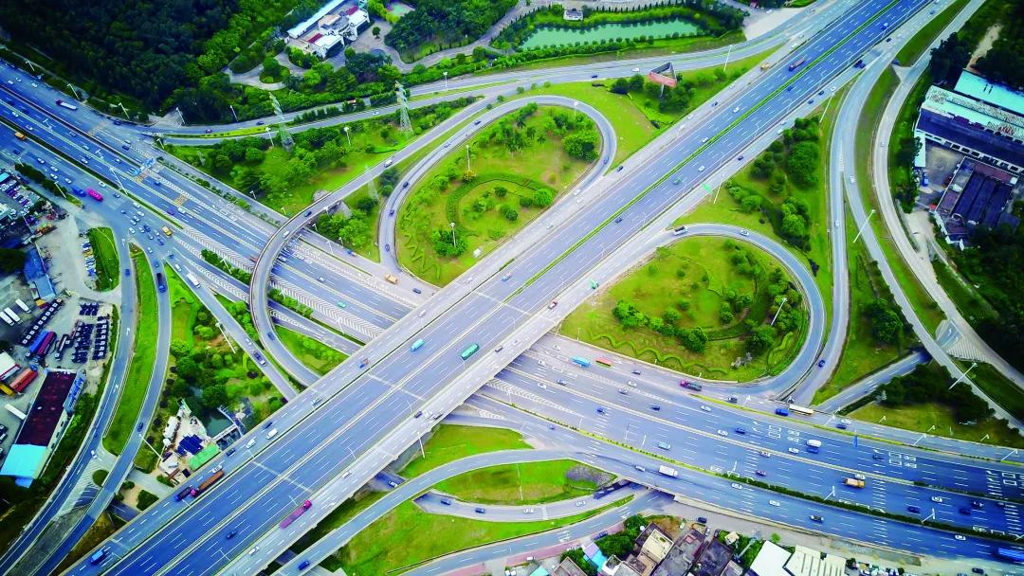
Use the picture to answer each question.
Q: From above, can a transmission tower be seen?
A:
Yes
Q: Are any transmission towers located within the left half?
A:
Yes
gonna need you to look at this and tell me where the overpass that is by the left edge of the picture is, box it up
[24,241,171,576]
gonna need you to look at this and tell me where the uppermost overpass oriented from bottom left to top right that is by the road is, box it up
[250,92,505,386]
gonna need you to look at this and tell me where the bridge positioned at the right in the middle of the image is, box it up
[843,150,1024,447]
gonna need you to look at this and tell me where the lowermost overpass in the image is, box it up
[271,448,597,576]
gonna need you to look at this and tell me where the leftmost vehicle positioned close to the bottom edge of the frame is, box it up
[86,546,106,564]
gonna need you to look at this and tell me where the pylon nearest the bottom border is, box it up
[359,165,382,201]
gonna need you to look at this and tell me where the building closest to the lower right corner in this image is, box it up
[782,546,846,576]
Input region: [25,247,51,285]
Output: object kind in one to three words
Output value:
shed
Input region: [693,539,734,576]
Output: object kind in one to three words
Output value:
house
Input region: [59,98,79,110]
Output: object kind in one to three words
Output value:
vehicle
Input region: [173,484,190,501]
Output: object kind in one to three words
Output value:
vehicle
